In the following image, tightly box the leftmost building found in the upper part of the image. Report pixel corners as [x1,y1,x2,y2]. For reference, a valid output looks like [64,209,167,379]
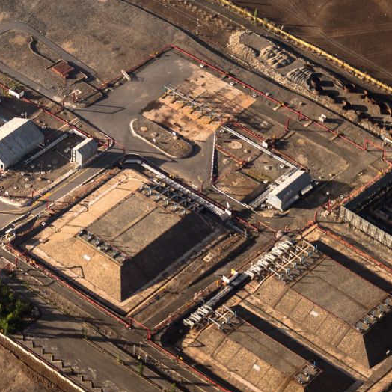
[0,118,46,171]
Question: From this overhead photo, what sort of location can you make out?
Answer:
industrial area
